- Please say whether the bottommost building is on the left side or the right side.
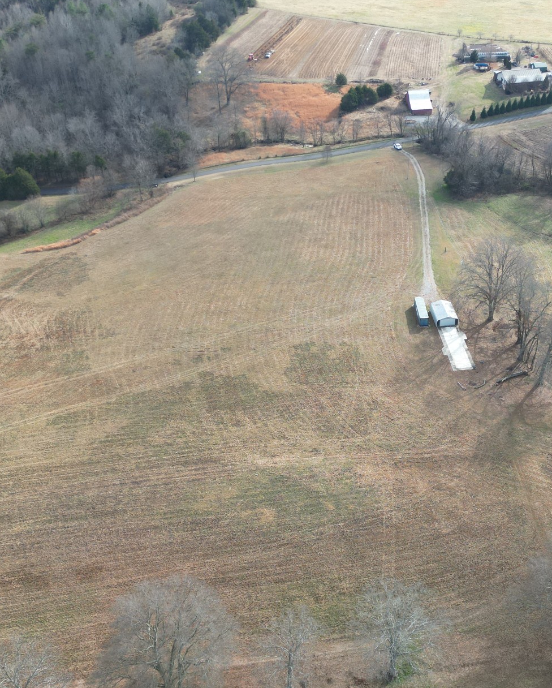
right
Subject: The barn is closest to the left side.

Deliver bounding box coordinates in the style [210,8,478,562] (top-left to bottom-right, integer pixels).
[404,89,433,115]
